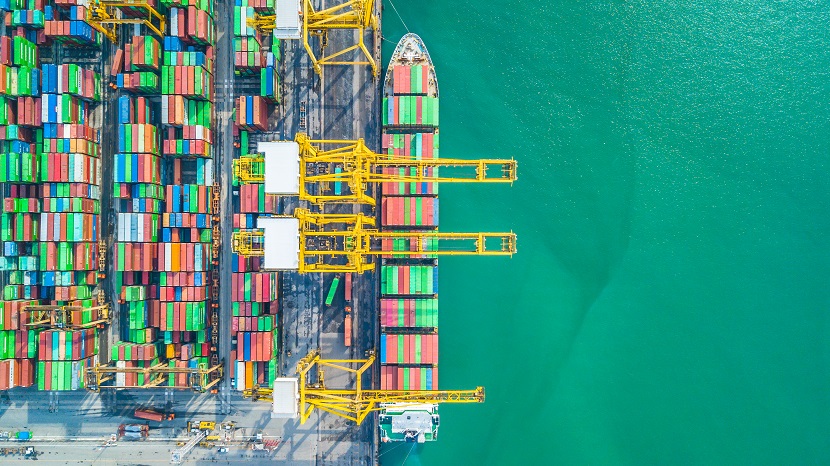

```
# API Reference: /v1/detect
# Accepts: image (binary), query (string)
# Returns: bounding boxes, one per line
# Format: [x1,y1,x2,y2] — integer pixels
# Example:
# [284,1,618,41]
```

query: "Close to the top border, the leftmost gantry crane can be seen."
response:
[89,1,172,41]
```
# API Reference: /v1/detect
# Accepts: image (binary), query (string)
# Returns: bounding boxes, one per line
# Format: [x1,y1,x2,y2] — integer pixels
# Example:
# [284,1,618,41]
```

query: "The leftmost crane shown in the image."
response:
[19,297,110,328]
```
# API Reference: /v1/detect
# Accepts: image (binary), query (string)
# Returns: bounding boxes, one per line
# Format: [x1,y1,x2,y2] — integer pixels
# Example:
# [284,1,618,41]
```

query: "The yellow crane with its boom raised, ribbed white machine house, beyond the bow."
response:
[239,0,386,86]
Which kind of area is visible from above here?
port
